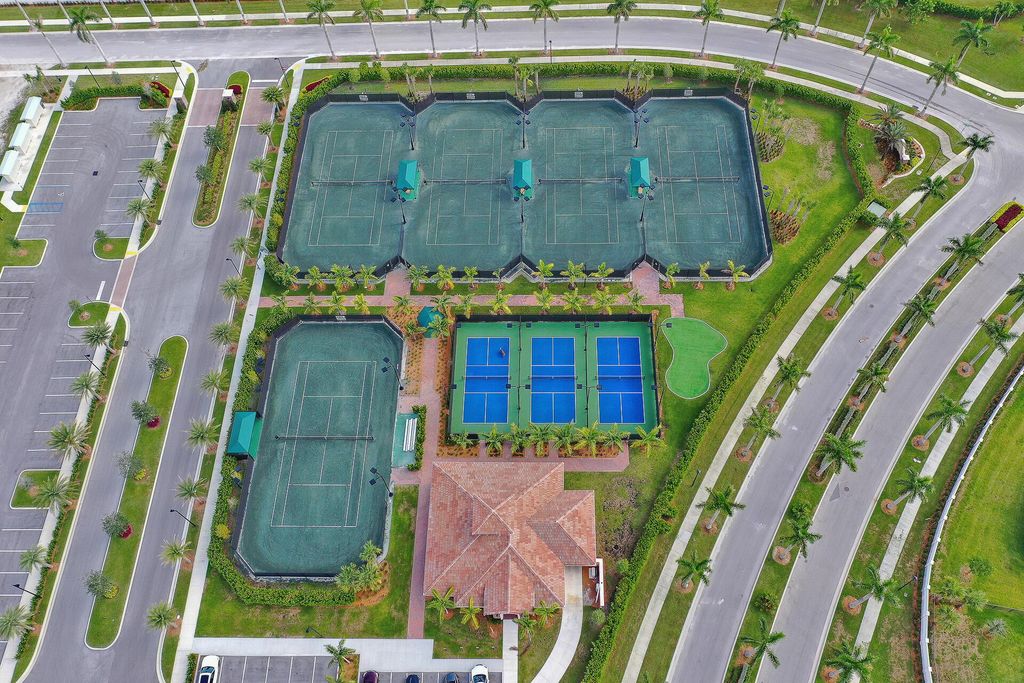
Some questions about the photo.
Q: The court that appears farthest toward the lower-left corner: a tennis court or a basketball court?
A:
tennis court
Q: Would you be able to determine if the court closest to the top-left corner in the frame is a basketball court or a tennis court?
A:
tennis court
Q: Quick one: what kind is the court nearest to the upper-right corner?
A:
tennis court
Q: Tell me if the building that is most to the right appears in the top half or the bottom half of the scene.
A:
top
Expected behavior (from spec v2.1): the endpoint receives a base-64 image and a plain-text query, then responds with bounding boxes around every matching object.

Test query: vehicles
[362,670,379,683]
[470,665,489,683]
[444,672,461,683]
[197,655,219,683]
[404,674,421,683]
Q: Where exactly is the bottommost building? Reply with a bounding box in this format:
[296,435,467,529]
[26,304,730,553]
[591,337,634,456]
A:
[423,461,596,618]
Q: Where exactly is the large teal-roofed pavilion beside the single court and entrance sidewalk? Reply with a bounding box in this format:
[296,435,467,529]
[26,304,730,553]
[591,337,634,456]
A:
[228,412,256,460]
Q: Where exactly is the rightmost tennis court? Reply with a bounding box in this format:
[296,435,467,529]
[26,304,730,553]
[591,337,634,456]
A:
[635,98,767,270]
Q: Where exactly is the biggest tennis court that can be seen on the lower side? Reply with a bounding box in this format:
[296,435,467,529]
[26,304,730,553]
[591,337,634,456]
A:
[239,324,402,576]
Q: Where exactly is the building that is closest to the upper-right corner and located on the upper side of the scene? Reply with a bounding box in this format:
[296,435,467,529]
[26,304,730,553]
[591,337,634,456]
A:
[630,157,650,198]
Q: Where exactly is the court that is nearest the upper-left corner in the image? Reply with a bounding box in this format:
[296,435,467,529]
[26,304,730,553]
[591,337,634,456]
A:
[283,104,416,272]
